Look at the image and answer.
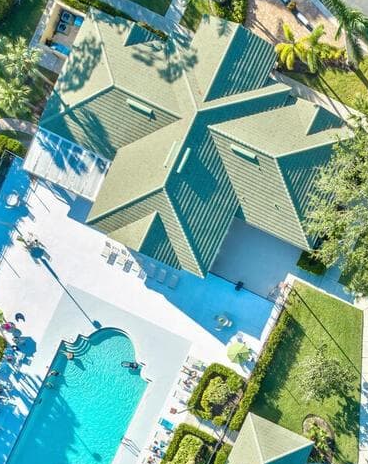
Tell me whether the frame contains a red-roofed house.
No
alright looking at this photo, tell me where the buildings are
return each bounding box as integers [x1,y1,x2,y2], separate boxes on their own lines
[39,8,355,277]
[226,411,314,464]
